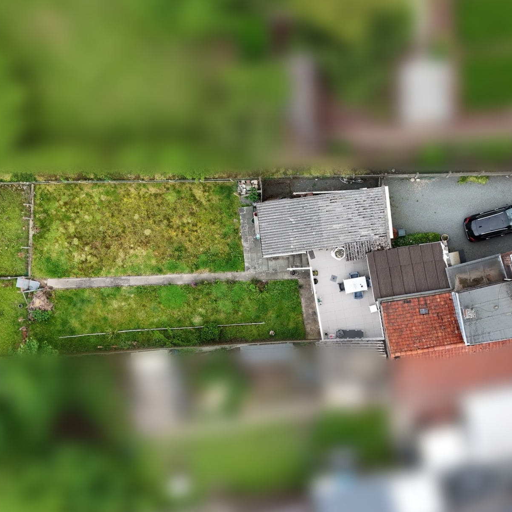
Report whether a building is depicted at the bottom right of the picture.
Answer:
Yes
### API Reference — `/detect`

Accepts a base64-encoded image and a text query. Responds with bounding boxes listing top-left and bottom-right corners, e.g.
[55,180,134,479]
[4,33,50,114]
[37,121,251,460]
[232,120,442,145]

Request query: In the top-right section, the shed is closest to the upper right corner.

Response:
[399,63,451,129]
